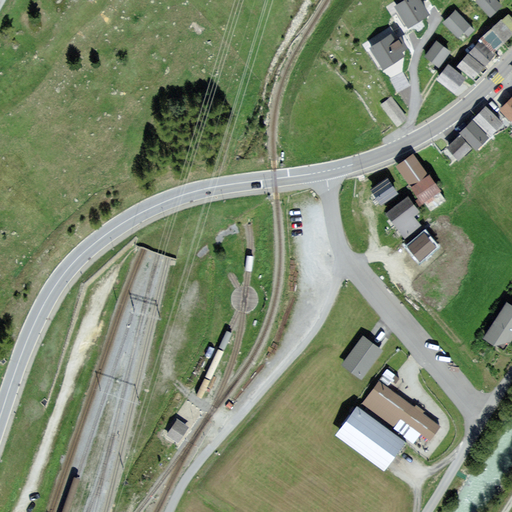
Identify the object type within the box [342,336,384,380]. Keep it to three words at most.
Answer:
barn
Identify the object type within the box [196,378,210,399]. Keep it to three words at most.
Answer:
rail car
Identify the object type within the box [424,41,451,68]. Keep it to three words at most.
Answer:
house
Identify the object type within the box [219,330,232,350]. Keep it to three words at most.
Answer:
rail car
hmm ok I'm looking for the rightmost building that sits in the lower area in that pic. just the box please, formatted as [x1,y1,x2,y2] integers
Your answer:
[484,302,512,353]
